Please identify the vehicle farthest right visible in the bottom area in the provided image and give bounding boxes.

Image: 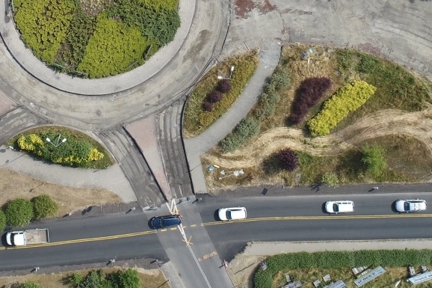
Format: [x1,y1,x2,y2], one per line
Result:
[393,199,425,213]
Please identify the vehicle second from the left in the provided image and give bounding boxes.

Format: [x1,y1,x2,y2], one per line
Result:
[149,214,180,227]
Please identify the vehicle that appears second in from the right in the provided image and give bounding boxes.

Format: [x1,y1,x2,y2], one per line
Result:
[325,200,354,213]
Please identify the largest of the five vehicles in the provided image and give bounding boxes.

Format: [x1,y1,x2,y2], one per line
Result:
[6,231,49,248]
